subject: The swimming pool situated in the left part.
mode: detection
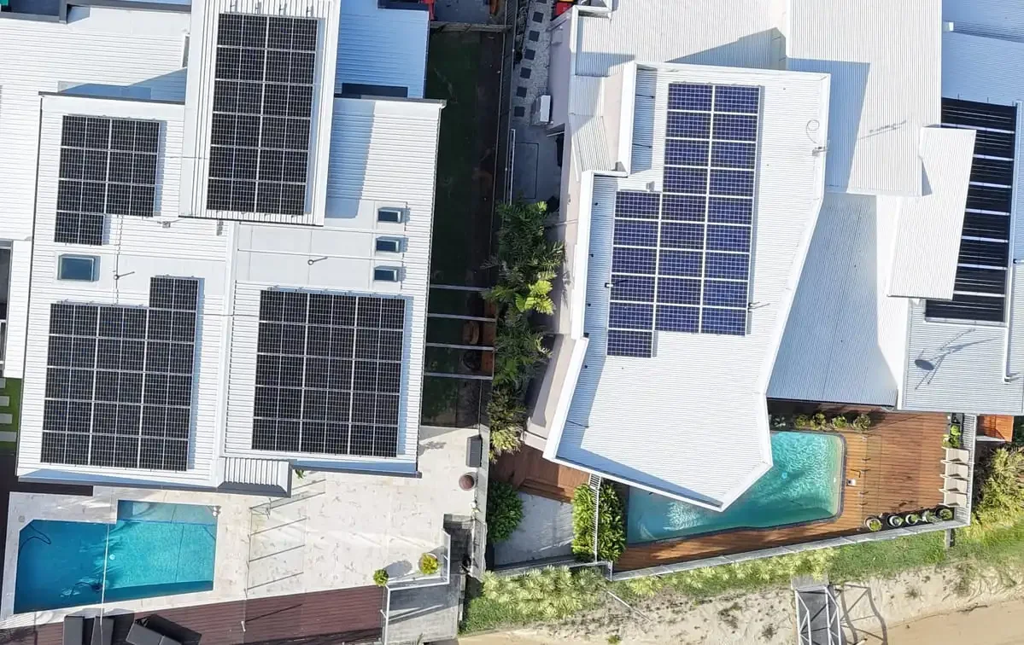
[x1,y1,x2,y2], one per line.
[21,500,218,608]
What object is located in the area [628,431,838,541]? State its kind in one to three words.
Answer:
swimming pool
